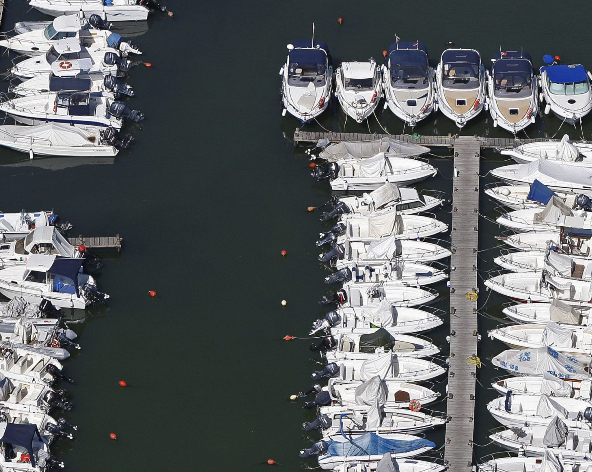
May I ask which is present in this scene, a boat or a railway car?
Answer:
boat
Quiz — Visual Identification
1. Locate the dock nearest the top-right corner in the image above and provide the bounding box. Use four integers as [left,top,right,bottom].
[480,137,592,156]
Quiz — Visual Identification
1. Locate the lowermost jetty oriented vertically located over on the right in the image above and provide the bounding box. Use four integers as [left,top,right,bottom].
[442,136,481,472]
